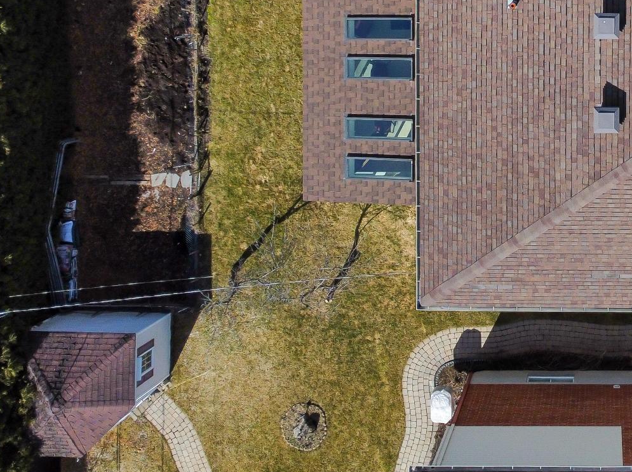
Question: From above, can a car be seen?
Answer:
No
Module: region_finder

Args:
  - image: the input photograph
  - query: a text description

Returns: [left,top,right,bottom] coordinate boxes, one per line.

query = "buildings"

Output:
[20,311,169,459]
[302,0,632,312]
[409,372,632,472]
